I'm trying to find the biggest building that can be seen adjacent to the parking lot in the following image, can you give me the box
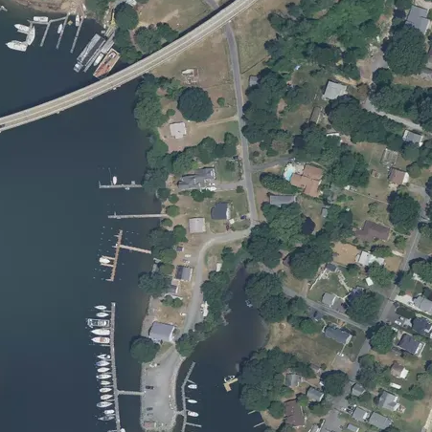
[147,321,175,344]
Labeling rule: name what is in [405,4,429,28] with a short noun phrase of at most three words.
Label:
house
